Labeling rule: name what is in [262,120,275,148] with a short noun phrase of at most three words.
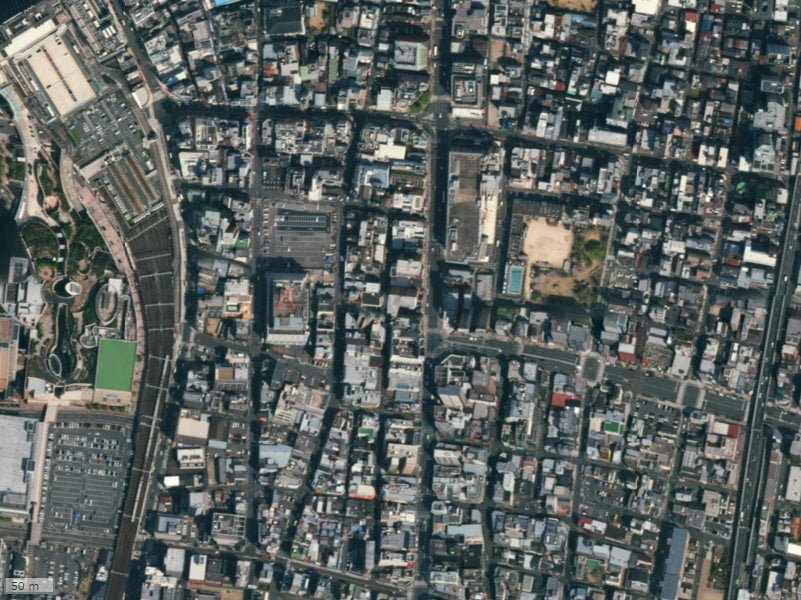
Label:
building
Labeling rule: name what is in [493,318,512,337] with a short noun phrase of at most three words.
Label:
house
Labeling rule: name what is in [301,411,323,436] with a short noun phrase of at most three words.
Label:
building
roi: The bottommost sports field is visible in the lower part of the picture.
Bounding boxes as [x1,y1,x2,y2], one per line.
[95,337,138,393]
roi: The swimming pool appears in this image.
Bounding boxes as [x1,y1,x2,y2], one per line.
[504,262,527,298]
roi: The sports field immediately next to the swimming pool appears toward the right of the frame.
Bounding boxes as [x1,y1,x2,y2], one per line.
[524,219,574,267]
